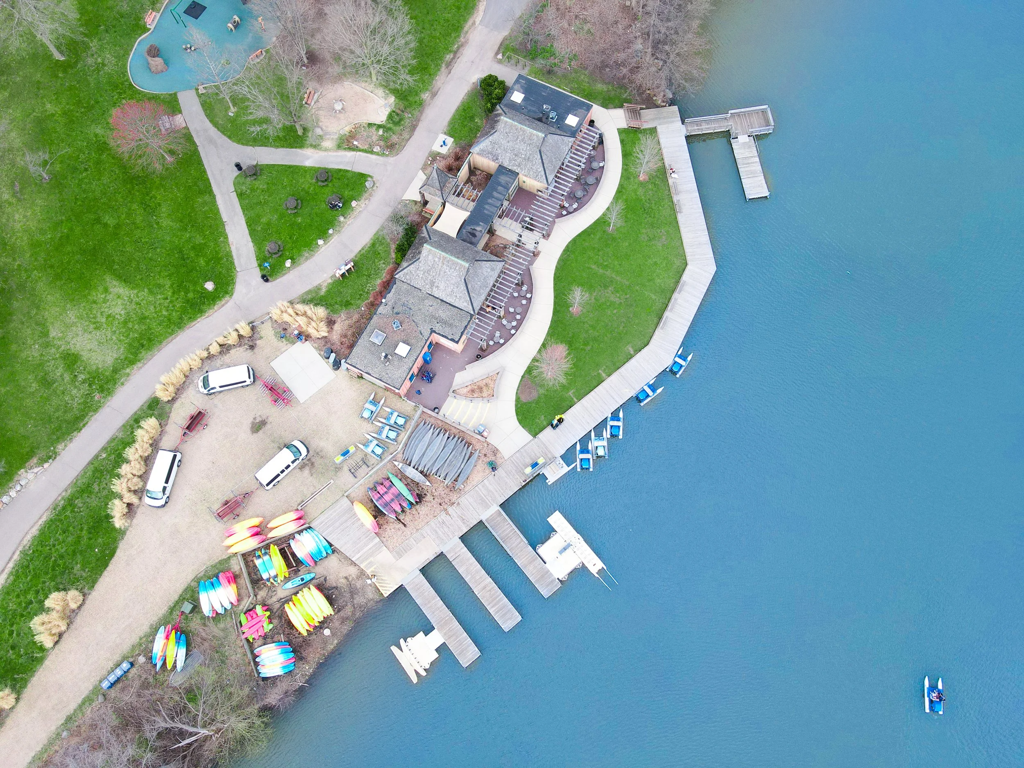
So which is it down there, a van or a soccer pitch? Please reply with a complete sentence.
The image shows a van.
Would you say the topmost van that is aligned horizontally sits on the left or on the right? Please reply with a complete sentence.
It is on the left.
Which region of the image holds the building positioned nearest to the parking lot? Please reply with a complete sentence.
Look in the center portion of the view to spot the building positioned nearest to the parking lot.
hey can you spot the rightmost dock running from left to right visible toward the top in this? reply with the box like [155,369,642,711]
[680,105,777,140]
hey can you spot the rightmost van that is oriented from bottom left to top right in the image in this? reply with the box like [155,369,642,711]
[252,440,314,494]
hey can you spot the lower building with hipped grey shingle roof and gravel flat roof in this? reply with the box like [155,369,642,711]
[346,224,505,397]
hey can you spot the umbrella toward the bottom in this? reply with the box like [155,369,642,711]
[484,456,498,470]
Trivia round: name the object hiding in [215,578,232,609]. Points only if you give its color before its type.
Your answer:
white boat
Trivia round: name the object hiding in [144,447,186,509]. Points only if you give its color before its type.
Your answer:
white van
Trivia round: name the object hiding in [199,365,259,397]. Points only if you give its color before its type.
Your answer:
white van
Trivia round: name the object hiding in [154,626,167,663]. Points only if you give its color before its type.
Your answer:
white boat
